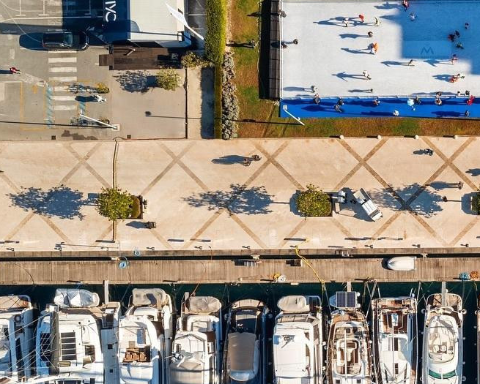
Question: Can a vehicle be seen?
Yes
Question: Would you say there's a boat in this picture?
Yes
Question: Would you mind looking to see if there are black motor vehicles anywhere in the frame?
Yes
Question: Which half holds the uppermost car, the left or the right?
left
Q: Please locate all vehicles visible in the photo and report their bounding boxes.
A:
[37,26,87,50]
[351,189,377,220]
